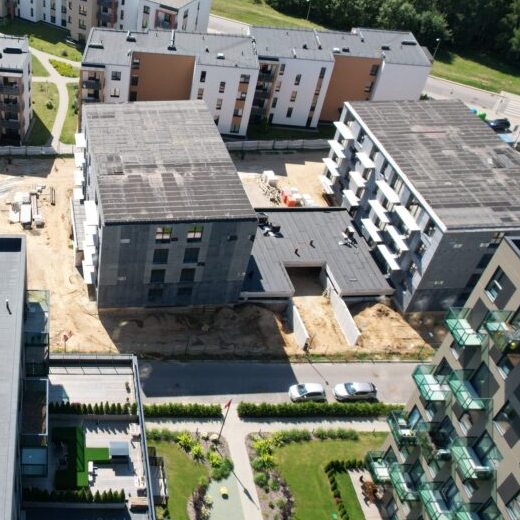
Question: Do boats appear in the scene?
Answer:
No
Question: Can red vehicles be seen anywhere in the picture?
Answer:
No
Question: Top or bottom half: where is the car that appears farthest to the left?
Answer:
bottom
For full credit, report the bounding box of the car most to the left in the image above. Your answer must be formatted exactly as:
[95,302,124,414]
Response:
[288,382,329,402]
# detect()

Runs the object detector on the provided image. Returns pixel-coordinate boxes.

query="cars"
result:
[288,382,329,402]
[334,381,380,402]
[484,116,515,129]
